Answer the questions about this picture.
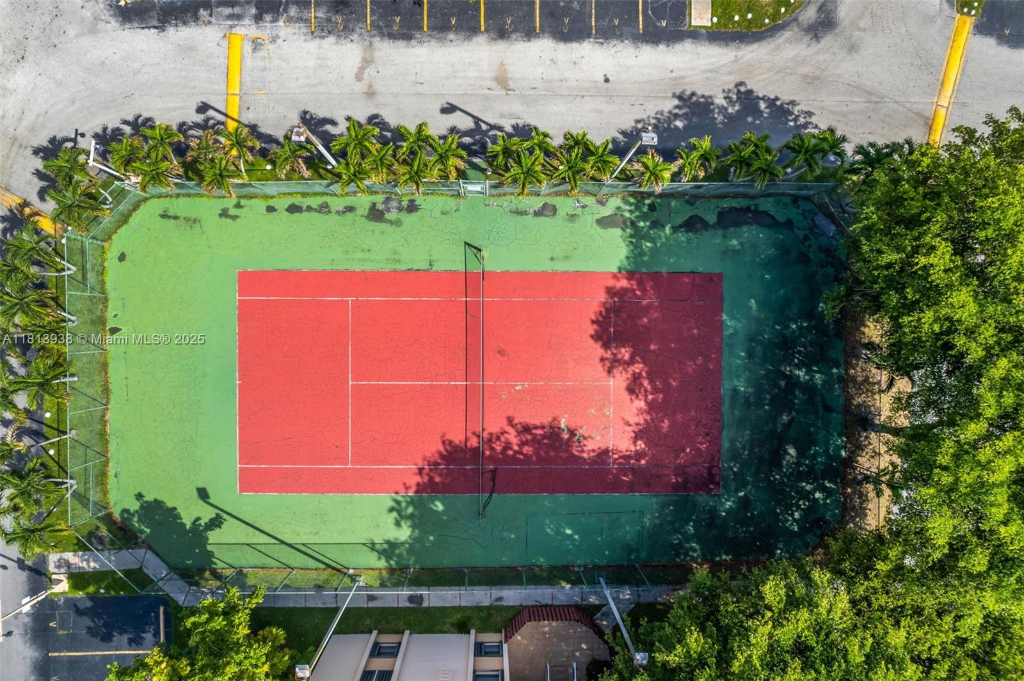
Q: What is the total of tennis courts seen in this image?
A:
1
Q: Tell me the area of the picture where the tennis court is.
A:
center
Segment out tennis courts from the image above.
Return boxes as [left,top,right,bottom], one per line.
[106,194,846,570]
